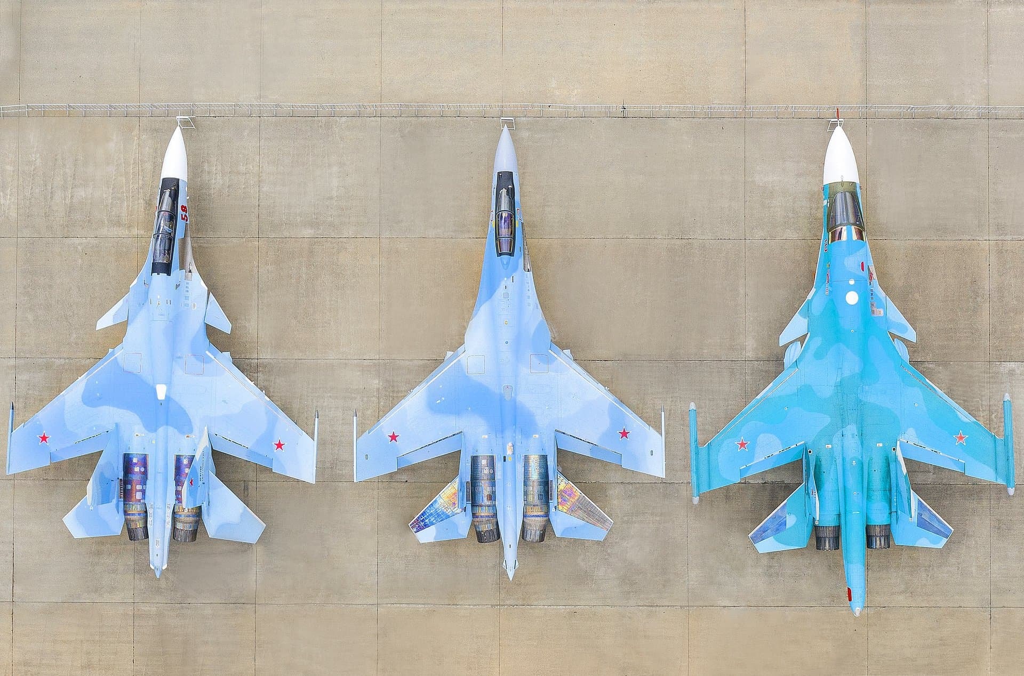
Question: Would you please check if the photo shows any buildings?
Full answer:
No, the scene contains no building.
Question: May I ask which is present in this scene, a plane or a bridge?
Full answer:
I can see a plane in this picture.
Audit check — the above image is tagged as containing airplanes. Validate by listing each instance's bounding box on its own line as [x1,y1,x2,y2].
[689,108,1015,617]
[353,125,665,580]
[6,111,319,578]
